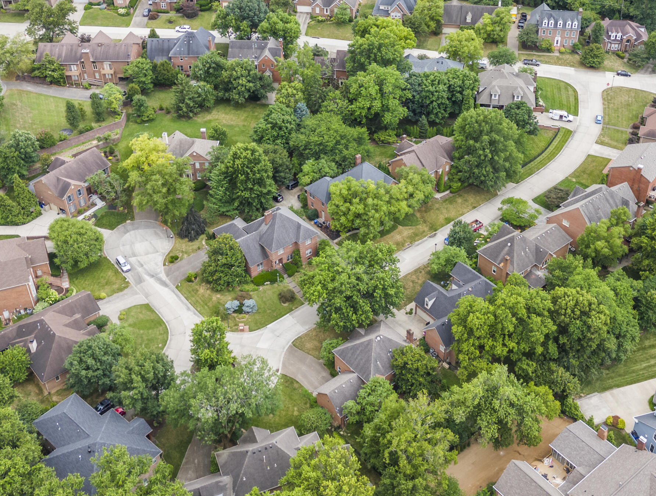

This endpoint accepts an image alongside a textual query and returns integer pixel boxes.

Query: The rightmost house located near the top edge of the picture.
[583,19,645,54]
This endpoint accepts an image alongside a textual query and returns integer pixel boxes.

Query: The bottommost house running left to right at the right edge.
[490,422,656,496]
